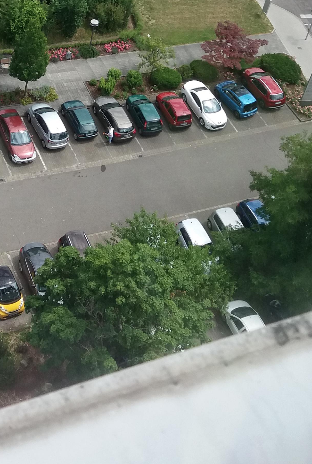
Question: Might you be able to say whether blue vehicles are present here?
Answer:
Yes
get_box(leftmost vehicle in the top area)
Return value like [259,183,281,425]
[0,110,35,163]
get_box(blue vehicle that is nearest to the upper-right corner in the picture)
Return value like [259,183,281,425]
[219,82,259,119]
